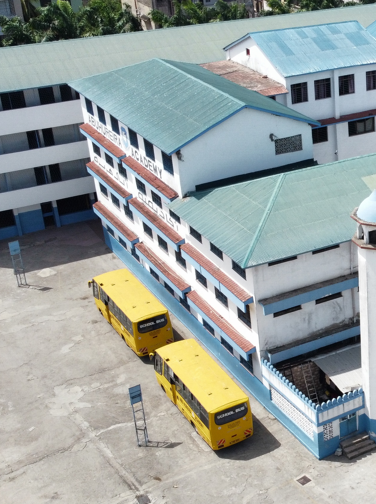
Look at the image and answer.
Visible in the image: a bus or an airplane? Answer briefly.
bus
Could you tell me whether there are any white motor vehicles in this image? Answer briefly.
No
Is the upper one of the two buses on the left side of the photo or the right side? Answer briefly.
left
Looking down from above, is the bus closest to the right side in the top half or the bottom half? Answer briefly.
bottom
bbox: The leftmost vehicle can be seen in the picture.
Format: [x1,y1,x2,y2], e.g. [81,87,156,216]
[92,275,171,353]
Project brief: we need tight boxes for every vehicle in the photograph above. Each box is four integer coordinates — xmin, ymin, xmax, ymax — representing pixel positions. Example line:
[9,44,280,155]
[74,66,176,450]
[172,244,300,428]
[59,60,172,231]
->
[151,347,251,448]
[92,275,171,353]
